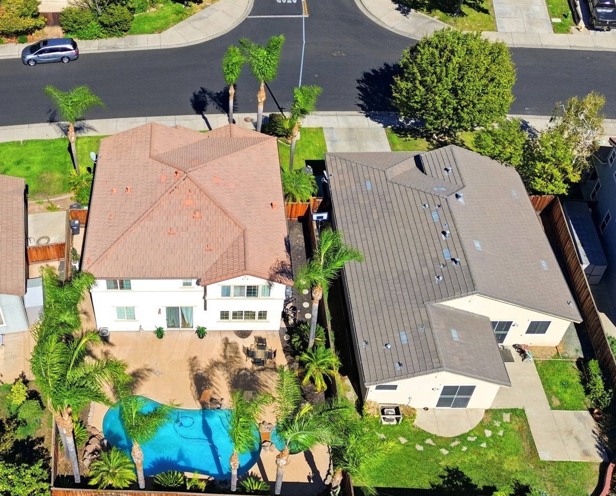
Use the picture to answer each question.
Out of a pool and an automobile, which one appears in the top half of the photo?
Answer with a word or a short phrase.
automobile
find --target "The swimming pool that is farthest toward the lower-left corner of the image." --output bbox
[98,391,265,484]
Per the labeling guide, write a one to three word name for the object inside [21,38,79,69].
car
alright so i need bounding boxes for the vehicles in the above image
[586,0,616,26]
[21,38,79,69]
